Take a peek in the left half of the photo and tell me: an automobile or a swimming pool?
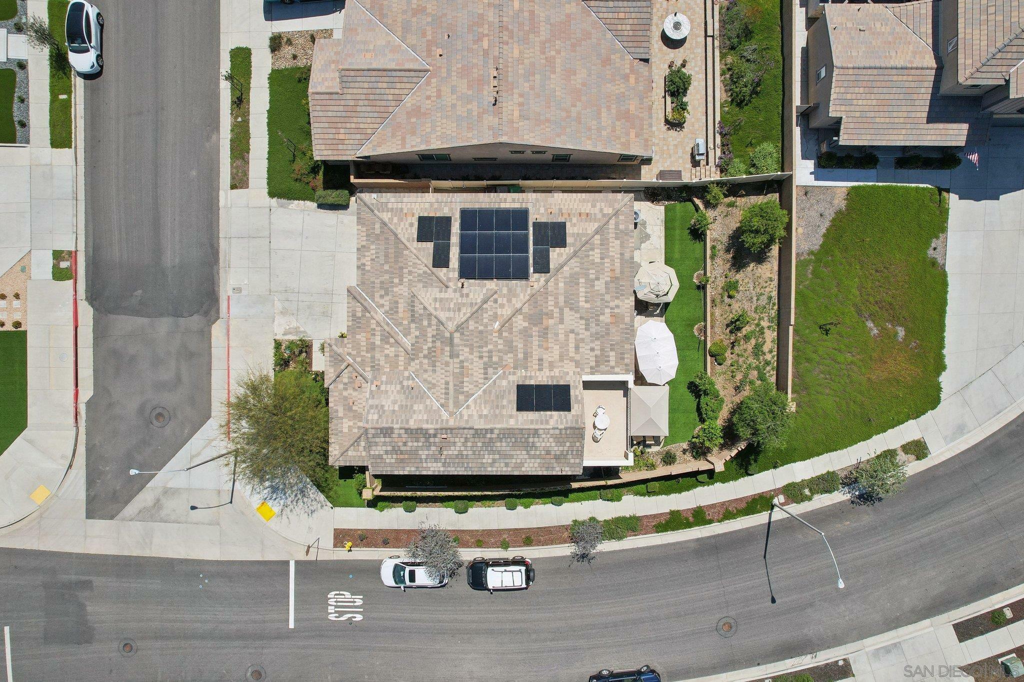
automobile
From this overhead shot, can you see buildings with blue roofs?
No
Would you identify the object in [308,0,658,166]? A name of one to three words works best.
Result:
house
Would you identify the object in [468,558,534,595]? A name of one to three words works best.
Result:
car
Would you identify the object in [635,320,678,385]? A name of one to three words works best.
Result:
umbrella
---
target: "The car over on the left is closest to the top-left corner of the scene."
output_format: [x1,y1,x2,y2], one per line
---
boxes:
[62,0,103,71]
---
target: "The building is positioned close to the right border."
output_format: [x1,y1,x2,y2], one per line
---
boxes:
[800,0,1024,157]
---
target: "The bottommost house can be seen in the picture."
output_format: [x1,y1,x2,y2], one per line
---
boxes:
[323,191,634,475]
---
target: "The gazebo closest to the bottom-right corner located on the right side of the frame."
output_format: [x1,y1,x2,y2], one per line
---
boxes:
[630,385,669,436]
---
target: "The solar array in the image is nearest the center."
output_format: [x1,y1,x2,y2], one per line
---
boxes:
[516,384,572,411]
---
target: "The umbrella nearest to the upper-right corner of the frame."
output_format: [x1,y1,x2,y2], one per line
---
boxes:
[635,261,680,303]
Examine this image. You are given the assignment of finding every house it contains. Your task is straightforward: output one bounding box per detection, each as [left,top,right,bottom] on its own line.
[308,0,658,166]
[323,191,634,475]
[800,0,1024,157]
